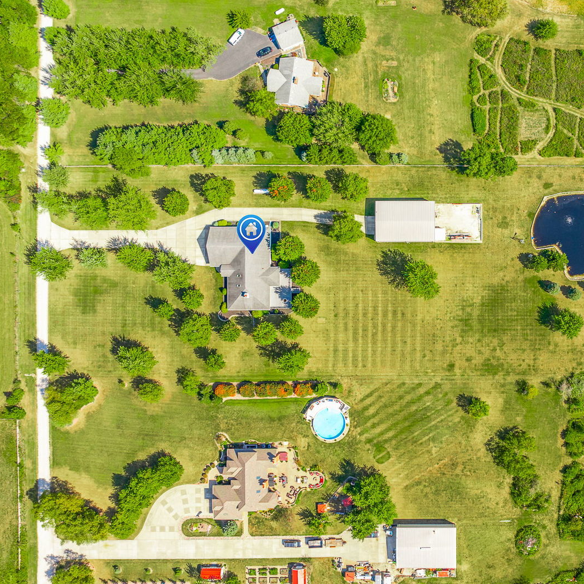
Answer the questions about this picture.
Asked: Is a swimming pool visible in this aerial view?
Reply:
Yes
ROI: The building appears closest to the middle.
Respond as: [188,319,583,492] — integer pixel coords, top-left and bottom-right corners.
[207,226,280,310]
